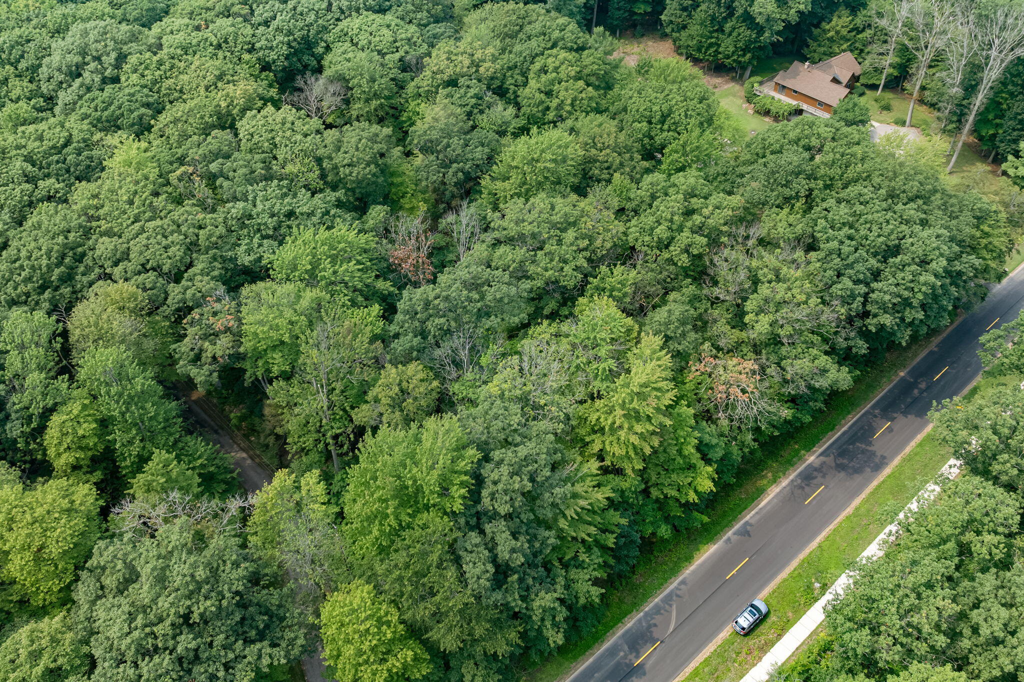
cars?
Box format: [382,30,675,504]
[729,599,768,638]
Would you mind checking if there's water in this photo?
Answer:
No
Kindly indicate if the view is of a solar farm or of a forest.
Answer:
forest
